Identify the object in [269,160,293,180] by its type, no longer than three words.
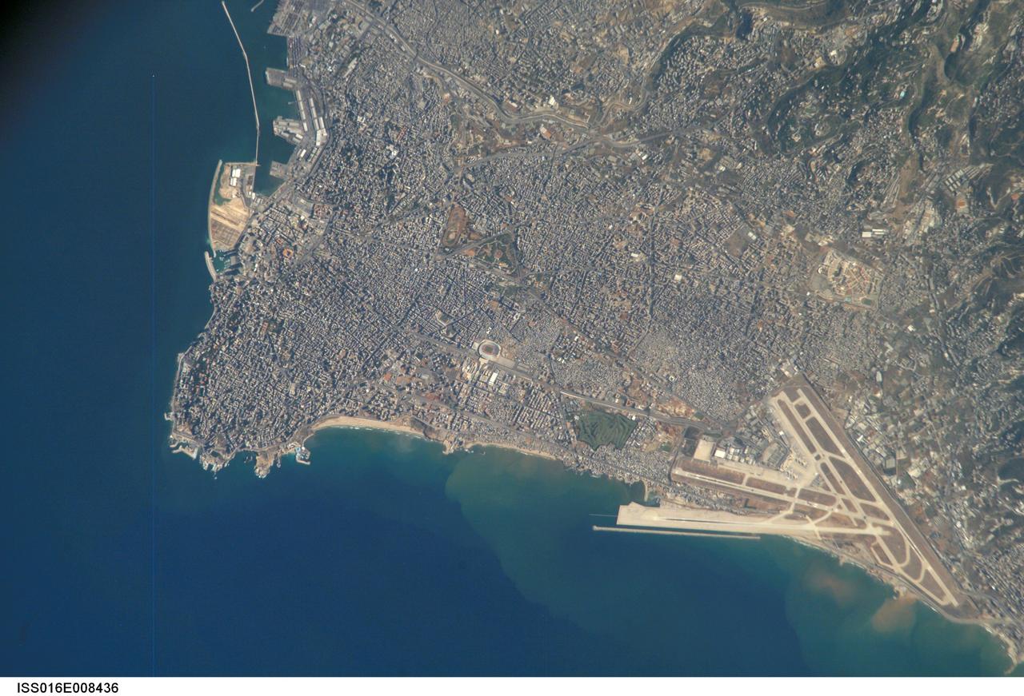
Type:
pier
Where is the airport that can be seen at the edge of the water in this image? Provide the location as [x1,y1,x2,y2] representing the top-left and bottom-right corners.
[617,373,979,620]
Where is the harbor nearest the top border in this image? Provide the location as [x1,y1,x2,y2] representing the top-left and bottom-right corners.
[266,0,322,188]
